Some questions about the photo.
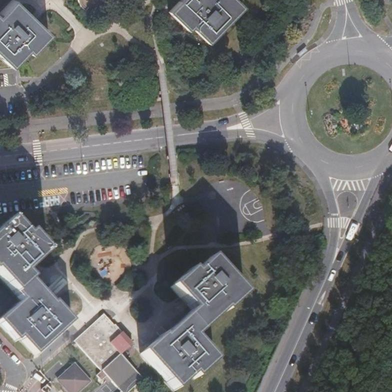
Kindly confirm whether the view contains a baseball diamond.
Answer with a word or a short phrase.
No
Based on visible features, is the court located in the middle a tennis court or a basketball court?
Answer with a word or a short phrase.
basketball court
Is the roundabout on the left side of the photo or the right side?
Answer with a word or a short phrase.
right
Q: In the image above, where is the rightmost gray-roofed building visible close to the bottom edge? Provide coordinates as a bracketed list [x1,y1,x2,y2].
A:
[144,250,254,384]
